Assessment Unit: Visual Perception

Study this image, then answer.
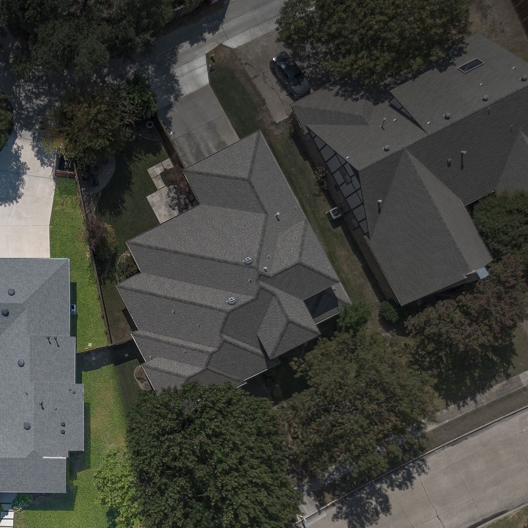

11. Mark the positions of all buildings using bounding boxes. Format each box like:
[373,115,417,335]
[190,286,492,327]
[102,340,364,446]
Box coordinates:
[0,258,84,493]
[283,33,528,306]
[115,128,352,410]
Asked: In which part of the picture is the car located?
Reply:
top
